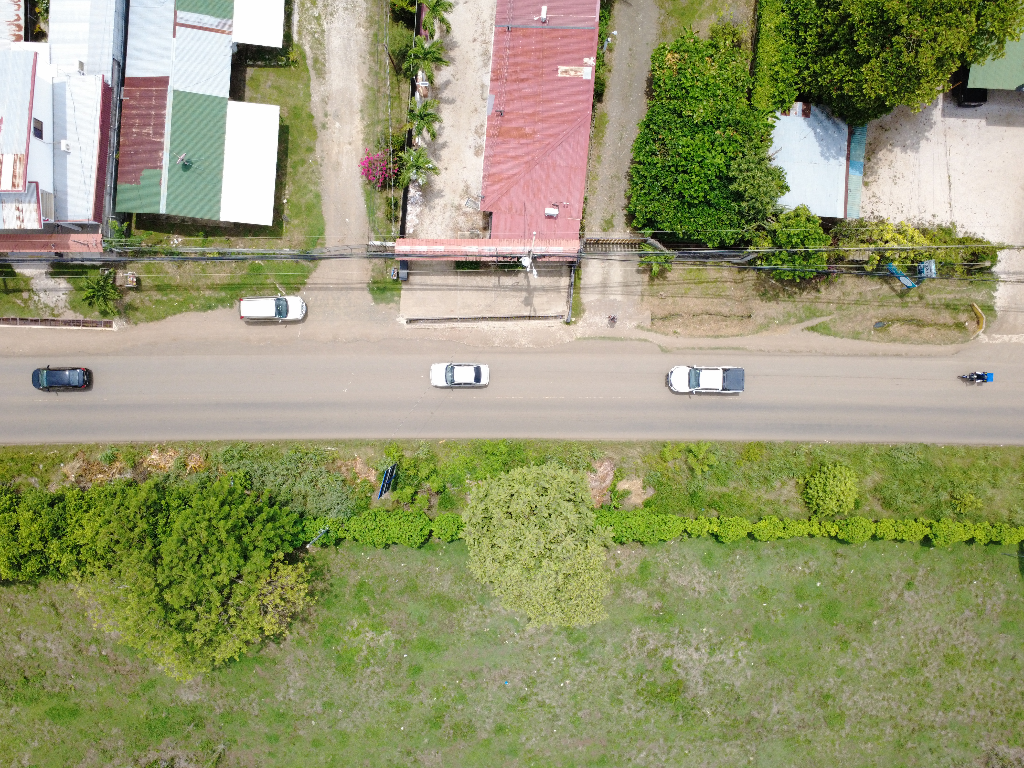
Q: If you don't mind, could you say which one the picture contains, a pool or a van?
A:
van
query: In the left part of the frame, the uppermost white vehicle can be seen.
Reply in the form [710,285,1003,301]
[242,293,309,324]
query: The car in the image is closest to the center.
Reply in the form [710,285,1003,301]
[429,361,490,389]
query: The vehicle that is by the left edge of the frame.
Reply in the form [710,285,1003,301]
[30,364,87,393]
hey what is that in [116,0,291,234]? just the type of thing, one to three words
building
